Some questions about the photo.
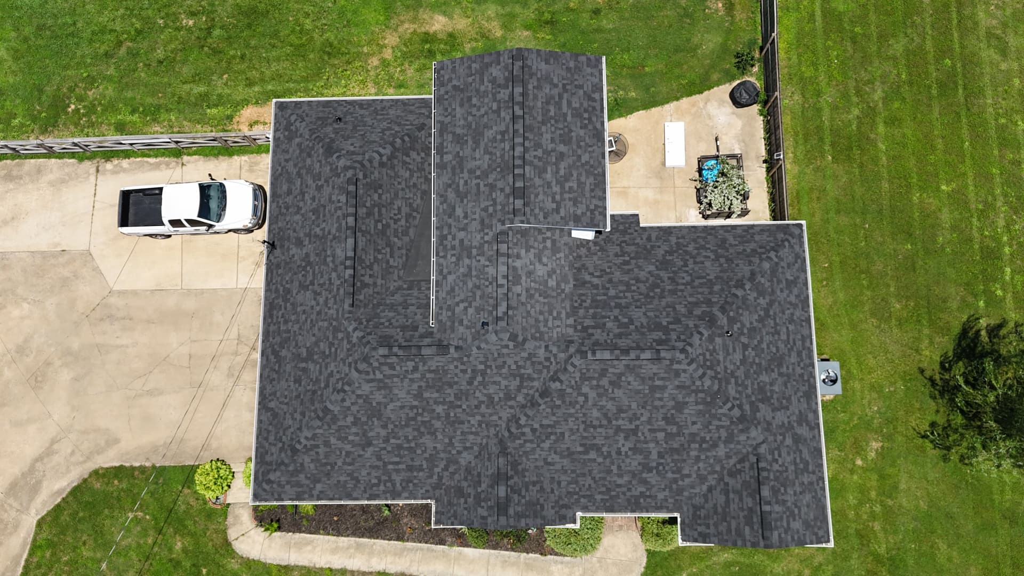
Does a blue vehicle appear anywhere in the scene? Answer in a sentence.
No, the picture doesn't show any blue vehicle.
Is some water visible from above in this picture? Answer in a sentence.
No, there is no water in the image.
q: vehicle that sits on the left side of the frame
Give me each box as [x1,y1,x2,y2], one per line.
[117,172,267,237]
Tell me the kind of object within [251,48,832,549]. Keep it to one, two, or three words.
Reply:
house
